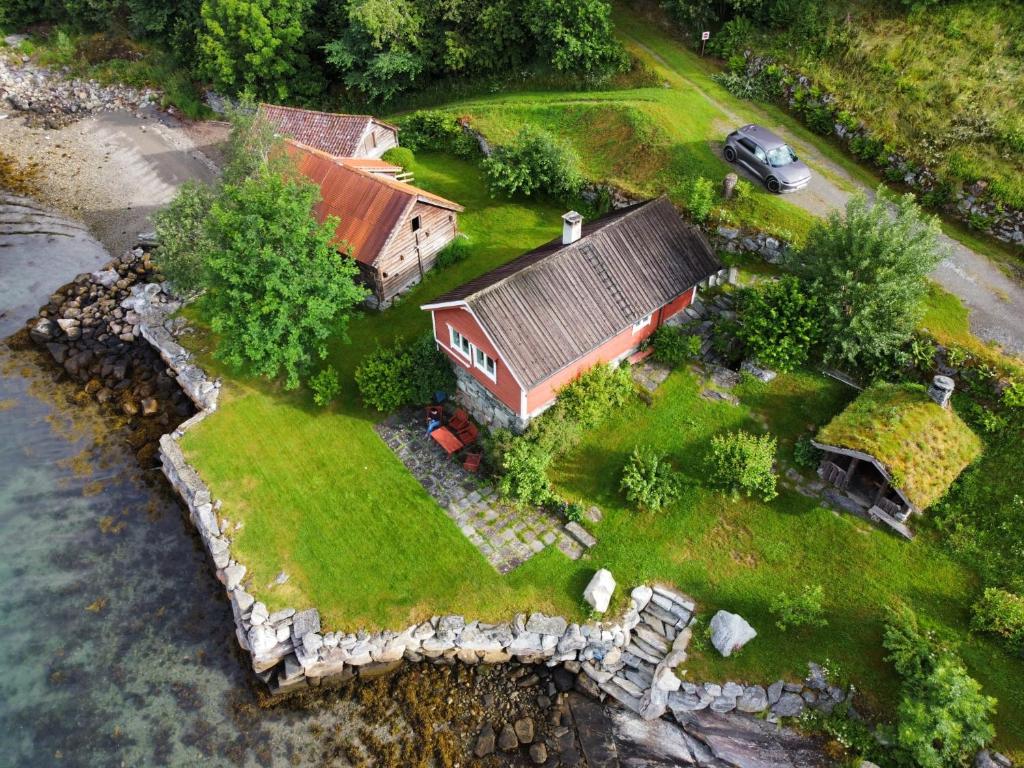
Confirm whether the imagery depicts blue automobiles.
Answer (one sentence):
No, no blue automobile can be seen from above.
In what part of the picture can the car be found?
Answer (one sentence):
You can find the car in the top right area of the picture.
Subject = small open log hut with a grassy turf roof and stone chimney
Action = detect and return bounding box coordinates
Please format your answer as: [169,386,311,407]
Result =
[810,381,985,531]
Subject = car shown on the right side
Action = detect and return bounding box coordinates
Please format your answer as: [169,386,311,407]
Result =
[724,119,816,197]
